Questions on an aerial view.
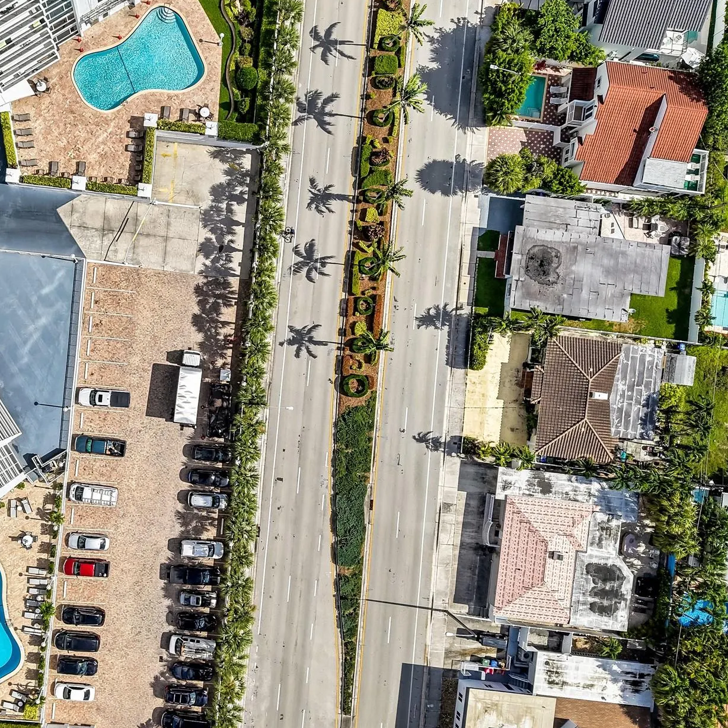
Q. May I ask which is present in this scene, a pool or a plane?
pool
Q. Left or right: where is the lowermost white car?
left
